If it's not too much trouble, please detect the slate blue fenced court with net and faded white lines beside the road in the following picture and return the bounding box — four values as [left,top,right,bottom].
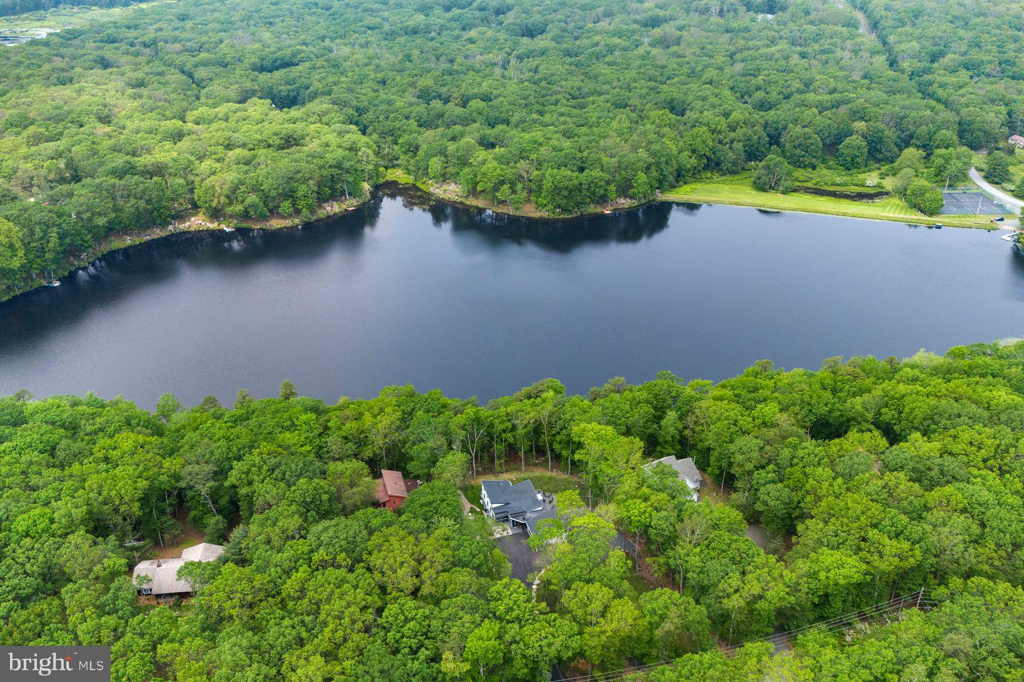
[926,185,1015,214]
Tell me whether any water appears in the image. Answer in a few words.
Yes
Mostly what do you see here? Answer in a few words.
trees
